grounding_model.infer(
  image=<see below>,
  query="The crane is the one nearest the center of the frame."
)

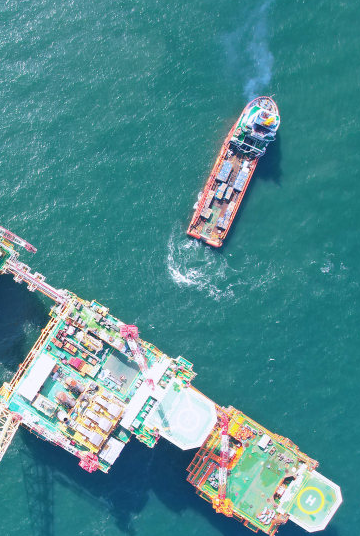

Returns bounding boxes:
[117,317,154,389]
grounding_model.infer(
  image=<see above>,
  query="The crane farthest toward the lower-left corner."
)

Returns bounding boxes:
[15,419,103,474]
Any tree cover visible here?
No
